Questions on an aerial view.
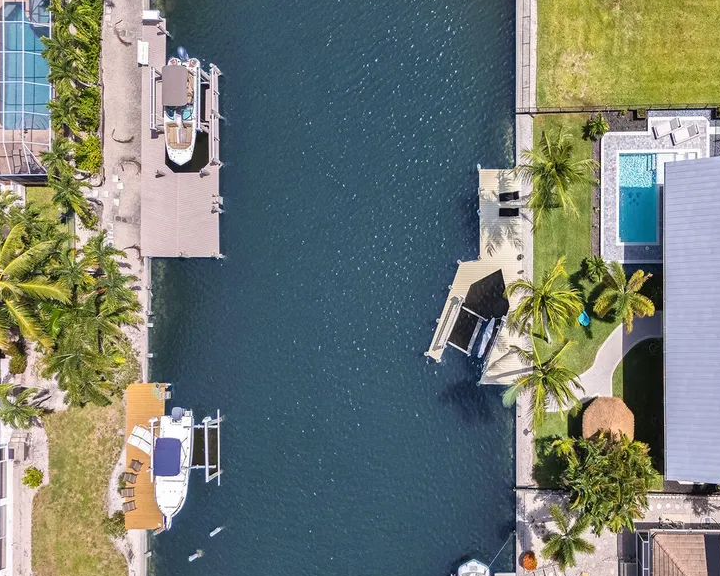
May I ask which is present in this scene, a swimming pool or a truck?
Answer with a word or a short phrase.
swimming pool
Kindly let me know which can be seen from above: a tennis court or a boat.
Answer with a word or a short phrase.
boat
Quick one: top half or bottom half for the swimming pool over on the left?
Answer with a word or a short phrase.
top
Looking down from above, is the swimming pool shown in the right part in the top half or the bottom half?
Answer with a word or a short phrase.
top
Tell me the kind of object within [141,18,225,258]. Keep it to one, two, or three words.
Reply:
pier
